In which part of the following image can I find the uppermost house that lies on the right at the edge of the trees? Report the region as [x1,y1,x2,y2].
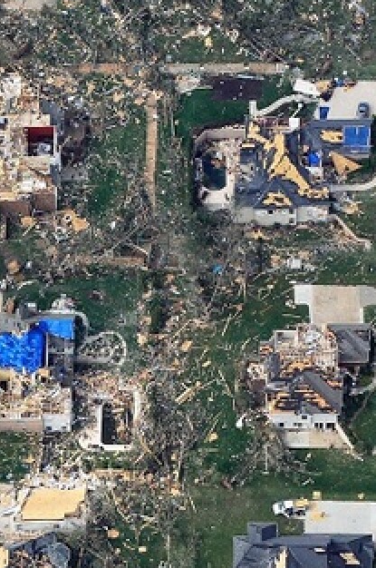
[190,117,371,226]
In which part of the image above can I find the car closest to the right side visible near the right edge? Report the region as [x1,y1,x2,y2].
[358,98,370,119]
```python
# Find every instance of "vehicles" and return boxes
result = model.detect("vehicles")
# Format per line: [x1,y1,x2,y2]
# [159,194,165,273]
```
[273,499,309,516]
[358,98,370,119]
